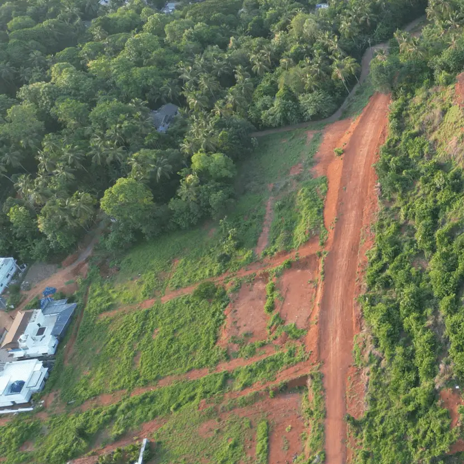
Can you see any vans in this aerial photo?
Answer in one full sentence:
No, the frame has no van in it.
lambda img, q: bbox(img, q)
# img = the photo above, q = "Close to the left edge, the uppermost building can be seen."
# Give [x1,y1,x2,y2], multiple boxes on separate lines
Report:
[0,257,38,322]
